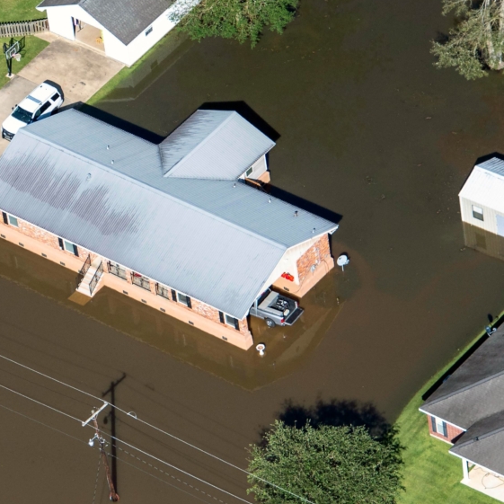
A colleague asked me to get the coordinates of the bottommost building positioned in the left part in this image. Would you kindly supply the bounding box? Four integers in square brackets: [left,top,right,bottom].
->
[0,108,340,351]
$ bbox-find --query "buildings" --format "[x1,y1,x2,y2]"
[37,0,194,69]
[0,108,340,351]
[459,158,504,239]
[419,323,504,504]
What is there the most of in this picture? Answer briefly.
water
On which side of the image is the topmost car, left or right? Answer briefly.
left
